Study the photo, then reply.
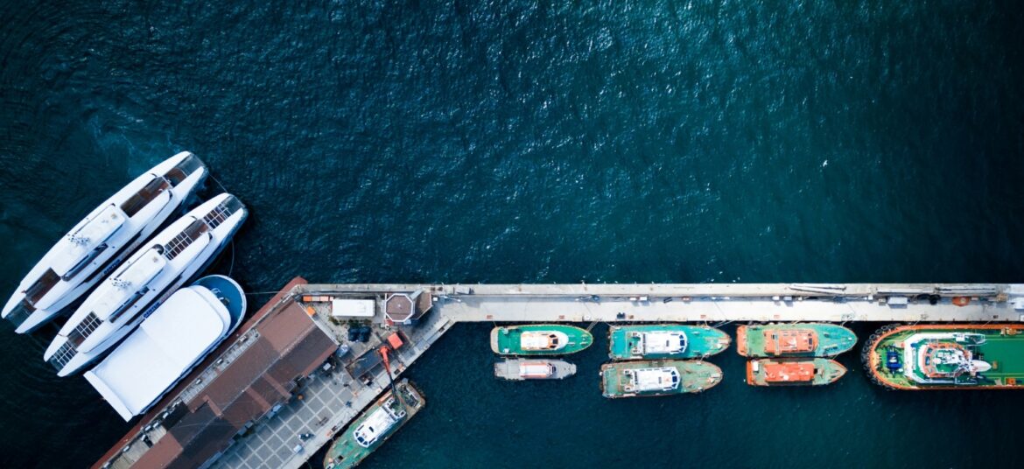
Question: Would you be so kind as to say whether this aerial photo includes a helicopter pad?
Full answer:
No, there isn't any helicopter pad down there.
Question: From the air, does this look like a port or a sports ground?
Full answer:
The picture captures a port.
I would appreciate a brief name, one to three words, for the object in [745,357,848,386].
boat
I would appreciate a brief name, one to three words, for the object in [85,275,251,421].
ship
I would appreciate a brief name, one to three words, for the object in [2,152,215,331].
ship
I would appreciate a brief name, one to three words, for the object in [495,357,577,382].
boat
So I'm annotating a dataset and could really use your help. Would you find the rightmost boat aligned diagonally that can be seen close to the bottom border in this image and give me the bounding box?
[323,380,425,469]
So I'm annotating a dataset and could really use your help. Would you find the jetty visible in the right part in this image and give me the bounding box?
[305,281,1024,323]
